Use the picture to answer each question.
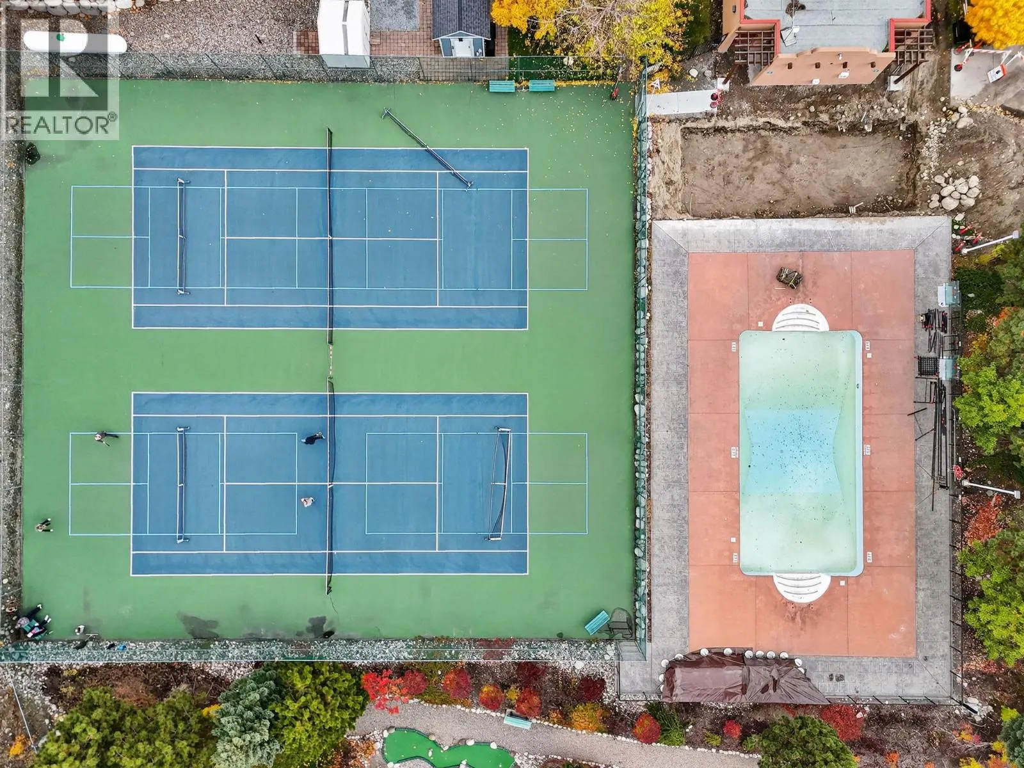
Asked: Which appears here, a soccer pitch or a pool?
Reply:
pool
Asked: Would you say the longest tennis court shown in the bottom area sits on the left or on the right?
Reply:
left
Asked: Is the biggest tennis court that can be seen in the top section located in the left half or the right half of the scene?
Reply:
left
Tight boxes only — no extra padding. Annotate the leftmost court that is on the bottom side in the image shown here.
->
[68,433,297,535]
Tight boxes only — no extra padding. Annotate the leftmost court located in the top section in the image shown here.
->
[70,185,296,289]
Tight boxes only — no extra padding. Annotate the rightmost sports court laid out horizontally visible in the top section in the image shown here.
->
[366,187,588,290]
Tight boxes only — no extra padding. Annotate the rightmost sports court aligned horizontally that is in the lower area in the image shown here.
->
[366,433,588,535]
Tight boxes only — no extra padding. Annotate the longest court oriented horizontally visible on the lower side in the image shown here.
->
[130,392,529,576]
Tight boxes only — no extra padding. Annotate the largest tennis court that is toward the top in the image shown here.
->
[131,146,529,330]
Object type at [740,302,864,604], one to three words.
swimming pool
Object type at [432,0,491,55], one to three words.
shed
